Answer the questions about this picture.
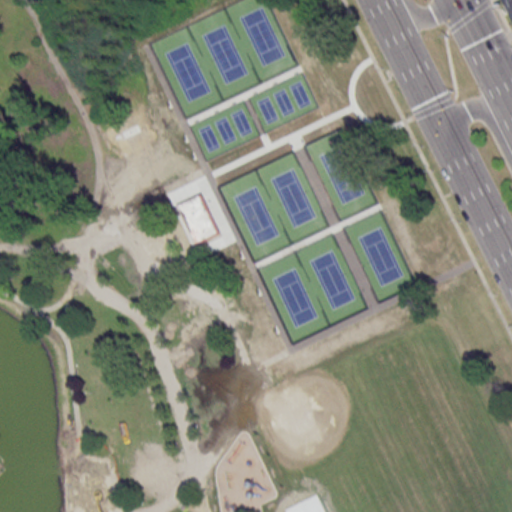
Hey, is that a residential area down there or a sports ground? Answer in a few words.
sports ground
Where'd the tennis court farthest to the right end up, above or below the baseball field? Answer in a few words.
above it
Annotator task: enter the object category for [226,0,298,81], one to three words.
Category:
tennis court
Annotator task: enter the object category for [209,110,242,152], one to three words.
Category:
sports court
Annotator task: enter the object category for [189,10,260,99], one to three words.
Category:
tennis court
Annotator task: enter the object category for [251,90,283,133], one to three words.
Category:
sports court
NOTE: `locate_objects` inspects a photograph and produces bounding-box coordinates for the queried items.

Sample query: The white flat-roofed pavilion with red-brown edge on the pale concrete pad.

[178,194,220,244]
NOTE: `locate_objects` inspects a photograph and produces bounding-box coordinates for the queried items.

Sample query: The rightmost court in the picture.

[344,212,410,302]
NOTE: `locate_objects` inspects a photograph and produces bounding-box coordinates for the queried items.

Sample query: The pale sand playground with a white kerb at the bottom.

[216,431,277,512]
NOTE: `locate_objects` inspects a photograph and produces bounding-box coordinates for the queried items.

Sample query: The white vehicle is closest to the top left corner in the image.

[118,126,141,139]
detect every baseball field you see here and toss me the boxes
[259,316,512,512]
